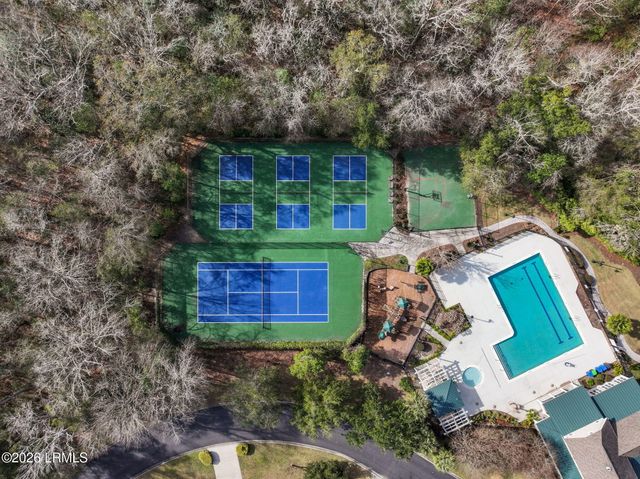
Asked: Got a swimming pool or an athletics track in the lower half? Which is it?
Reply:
swimming pool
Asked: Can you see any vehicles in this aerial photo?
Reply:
No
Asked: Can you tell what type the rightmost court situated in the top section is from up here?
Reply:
basketball court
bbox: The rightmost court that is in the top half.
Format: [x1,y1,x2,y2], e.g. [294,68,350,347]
[404,147,476,231]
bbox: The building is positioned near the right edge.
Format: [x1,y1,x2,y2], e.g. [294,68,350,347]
[532,373,640,479]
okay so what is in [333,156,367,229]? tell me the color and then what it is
blue sports court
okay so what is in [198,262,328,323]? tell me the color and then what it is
blue tennis court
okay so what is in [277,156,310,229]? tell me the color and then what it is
blue sports court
